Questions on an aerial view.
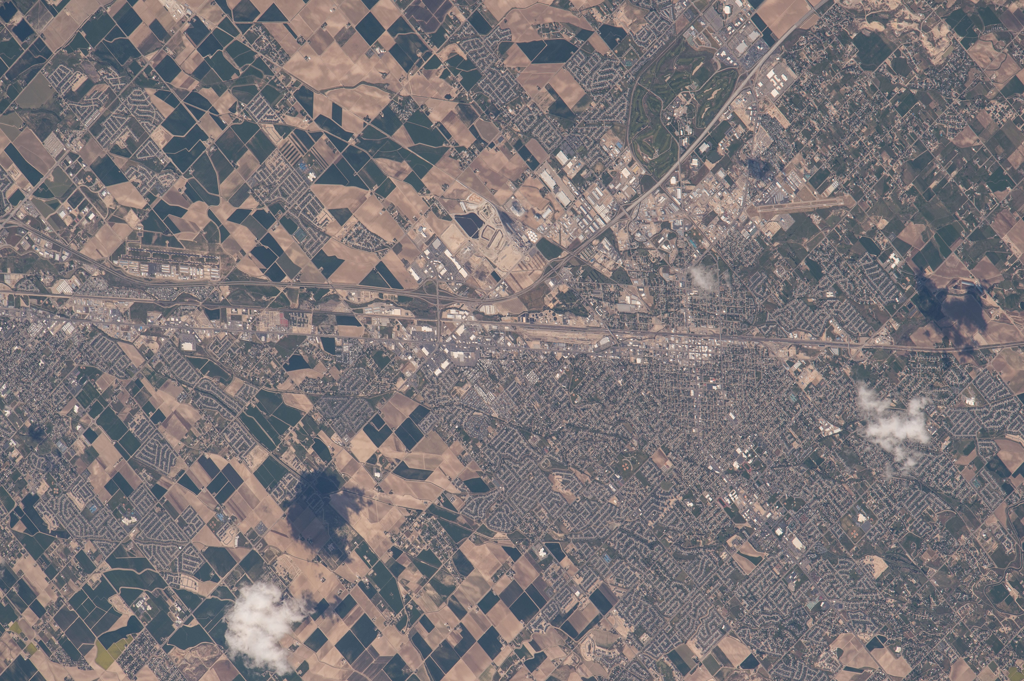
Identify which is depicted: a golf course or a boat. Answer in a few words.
golf course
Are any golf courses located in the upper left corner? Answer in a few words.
No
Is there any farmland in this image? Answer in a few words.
Yes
